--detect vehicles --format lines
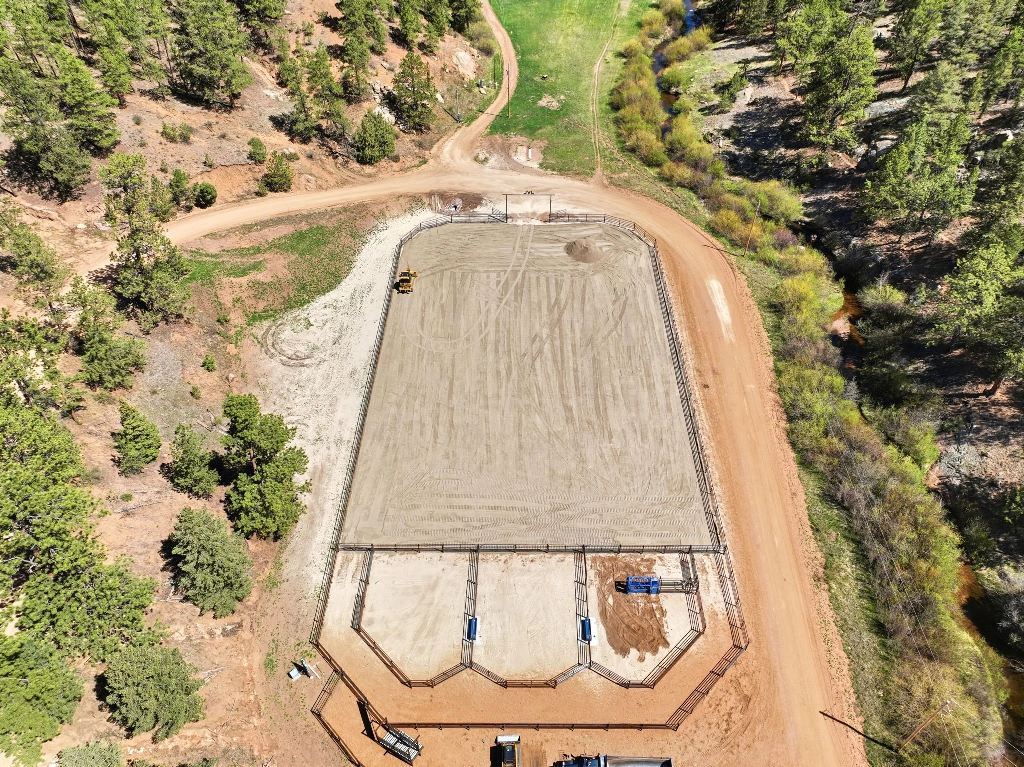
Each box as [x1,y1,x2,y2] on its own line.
[497,738,521,767]
[559,750,674,767]
[401,264,424,290]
